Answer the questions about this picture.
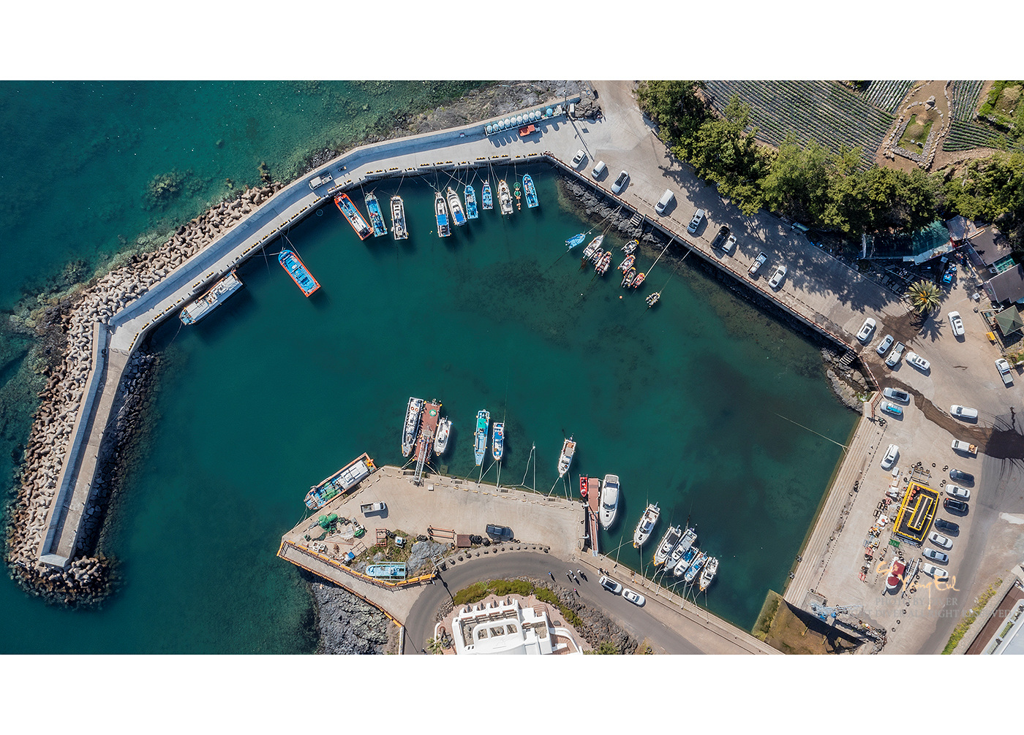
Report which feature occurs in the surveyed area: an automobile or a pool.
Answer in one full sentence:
There is an automobile in the scene.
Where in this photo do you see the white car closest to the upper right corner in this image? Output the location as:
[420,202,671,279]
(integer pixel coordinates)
[946,311,968,337]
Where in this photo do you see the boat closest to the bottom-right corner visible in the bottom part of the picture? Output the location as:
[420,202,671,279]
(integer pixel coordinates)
[885,556,908,592]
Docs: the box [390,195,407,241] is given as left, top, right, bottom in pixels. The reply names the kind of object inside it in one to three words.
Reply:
boat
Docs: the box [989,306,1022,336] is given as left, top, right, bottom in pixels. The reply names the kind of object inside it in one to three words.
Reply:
building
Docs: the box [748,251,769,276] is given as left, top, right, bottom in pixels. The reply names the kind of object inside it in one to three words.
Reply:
car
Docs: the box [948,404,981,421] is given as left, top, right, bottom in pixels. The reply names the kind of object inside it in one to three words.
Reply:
vehicle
